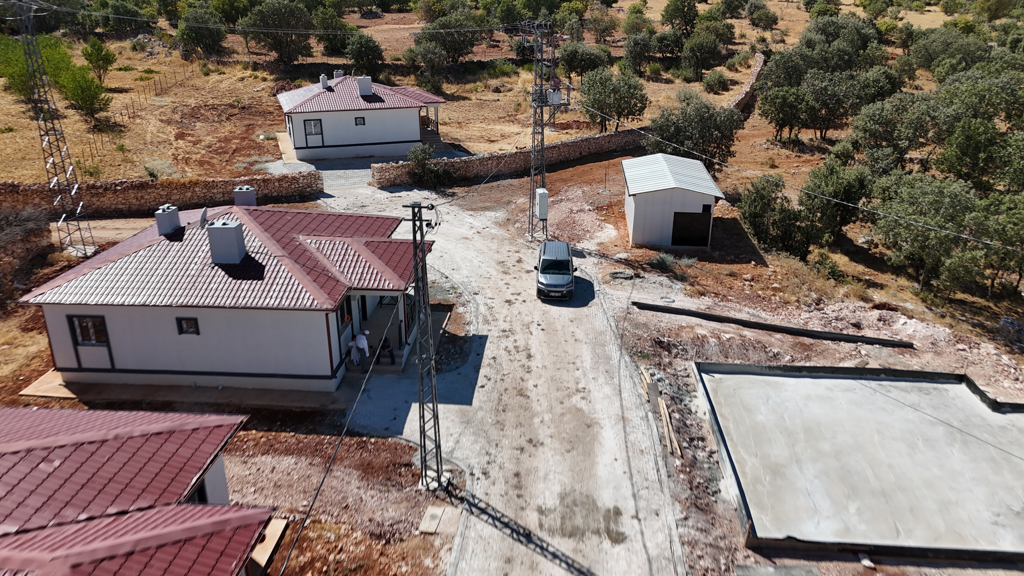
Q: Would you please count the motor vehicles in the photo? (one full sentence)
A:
I count just 1 motor vehicle.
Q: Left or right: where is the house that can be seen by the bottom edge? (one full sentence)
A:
The house that can be seen by the bottom edge appears in the left half of the scene.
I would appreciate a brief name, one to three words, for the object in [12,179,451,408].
house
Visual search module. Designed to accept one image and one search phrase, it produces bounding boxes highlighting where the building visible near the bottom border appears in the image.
[0,408,281,576]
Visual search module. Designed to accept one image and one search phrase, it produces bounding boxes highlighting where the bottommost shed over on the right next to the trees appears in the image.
[616,152,728,248]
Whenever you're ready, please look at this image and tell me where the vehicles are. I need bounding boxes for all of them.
[533,241,579,298]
